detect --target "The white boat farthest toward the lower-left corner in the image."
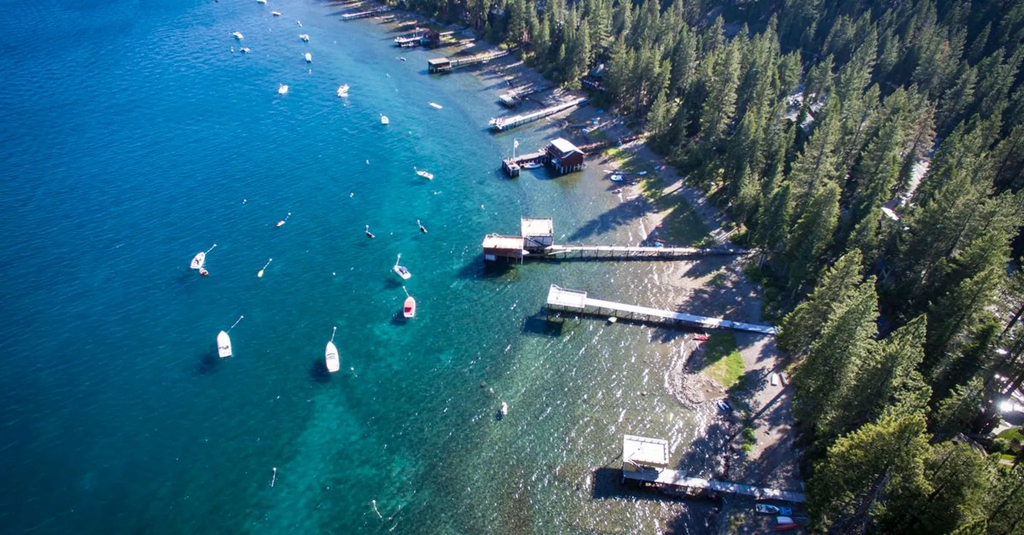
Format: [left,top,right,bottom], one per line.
[216,329,232,361]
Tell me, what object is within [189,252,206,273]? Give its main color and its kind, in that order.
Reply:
white boat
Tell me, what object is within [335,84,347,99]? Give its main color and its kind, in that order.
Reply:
white boat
